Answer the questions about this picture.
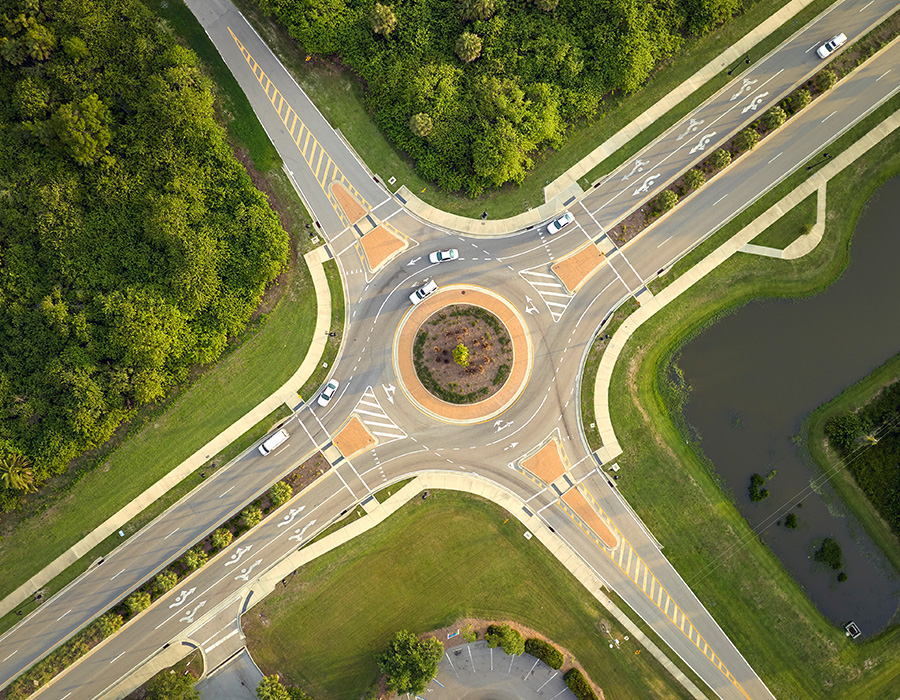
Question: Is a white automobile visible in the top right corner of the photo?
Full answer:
Yes, in the top right corner of the photo there is a white automobile.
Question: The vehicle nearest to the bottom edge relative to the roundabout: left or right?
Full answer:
It is on the left side of the roundabout that the vehicle nearest to the bottom edge is positioned.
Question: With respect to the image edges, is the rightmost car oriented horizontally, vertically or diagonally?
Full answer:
The rightmost car runs diagonally in the image.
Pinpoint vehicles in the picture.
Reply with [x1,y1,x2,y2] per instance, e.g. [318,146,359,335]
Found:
[547,212,576,235]
[318,378,340,406]
[259,428,290,456]
[410,280,438,304]
[430,250,459,263]
[817,30,850,59]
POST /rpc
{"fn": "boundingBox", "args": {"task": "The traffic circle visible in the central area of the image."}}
[348,231,579,475]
